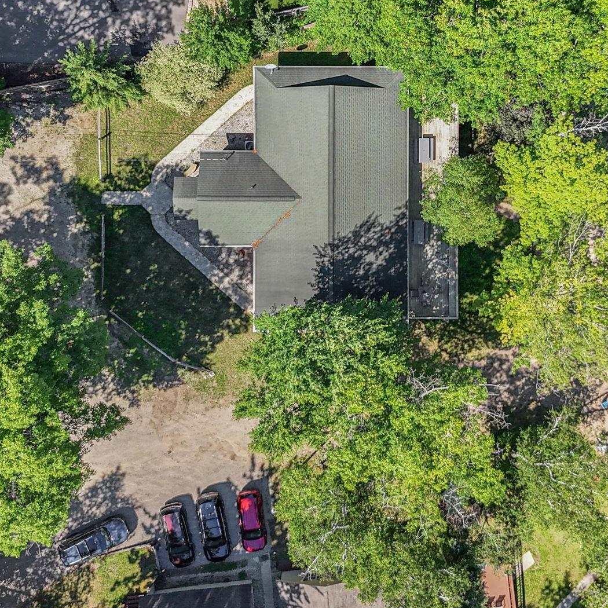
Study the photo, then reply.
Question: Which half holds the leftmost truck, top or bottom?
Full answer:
The leftmost truck sits in the bottom half of the picture.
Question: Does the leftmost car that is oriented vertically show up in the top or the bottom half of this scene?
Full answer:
Seen from above, the leftmost car that is oriented vertically lies in the bottom half of the view.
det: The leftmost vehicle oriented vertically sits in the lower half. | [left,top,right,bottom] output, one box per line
[160,497,198,570]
